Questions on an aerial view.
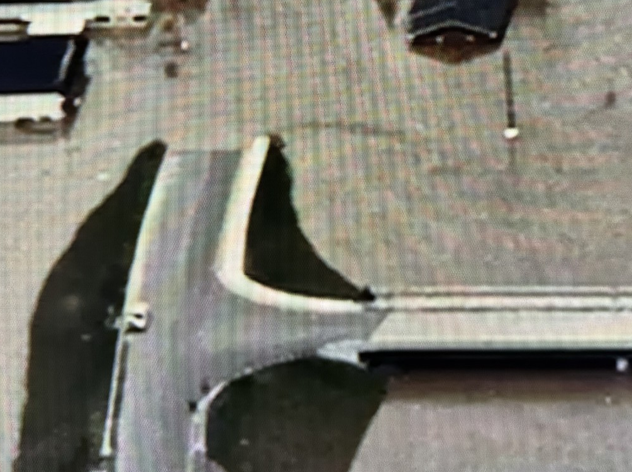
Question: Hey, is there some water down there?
Yes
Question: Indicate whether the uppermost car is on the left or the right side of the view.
left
